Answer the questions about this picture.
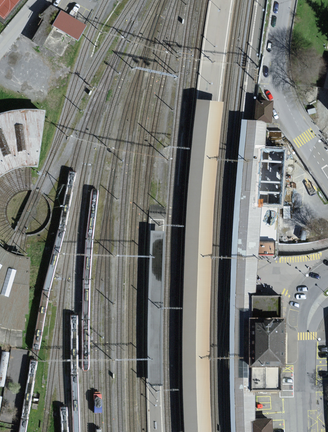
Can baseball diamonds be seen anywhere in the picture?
No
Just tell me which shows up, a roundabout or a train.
train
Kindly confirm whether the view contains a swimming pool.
No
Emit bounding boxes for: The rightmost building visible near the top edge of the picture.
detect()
[54,11,86,40]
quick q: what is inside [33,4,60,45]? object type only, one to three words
building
